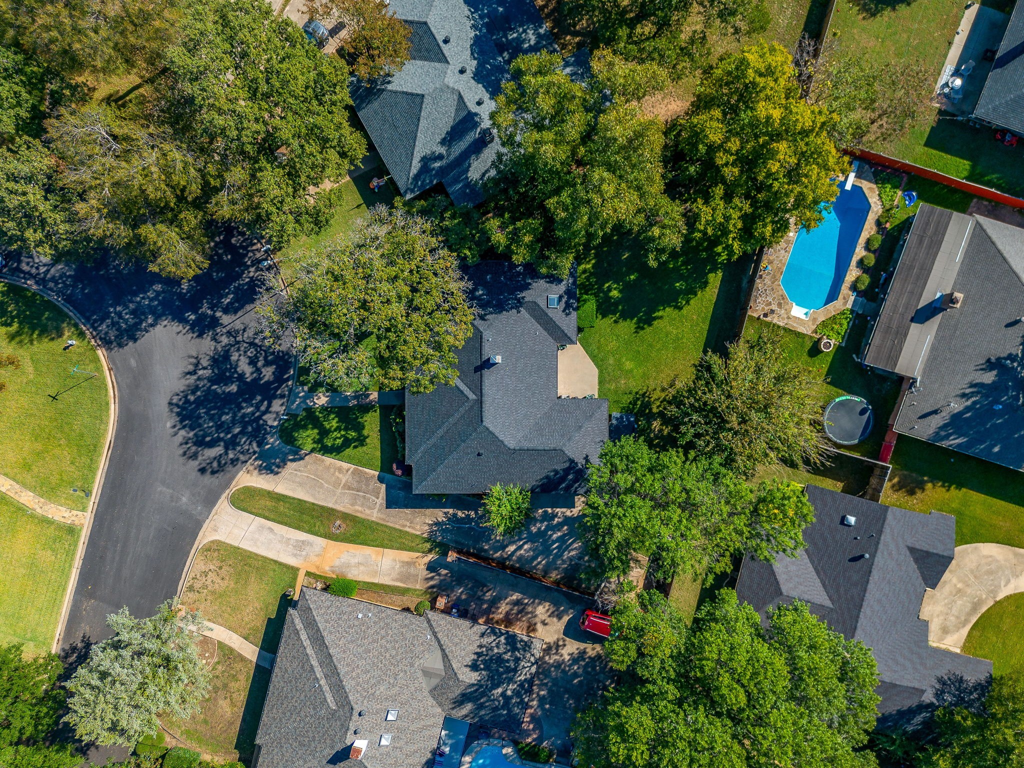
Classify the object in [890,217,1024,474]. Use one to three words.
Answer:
house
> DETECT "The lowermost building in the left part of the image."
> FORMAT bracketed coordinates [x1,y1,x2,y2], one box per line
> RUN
[255,584,546,768]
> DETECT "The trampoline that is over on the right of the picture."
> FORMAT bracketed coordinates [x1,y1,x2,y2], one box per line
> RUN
[822,395,876,446]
